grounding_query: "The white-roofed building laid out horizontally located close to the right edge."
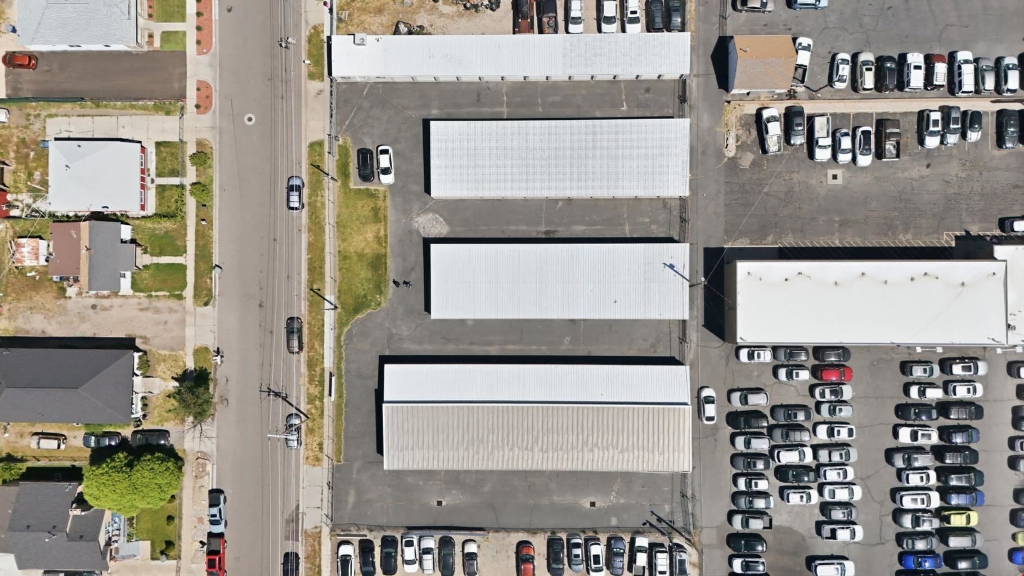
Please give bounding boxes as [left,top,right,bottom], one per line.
[724,261,1007,345]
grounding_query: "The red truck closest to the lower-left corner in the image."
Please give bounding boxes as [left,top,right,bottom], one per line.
[204,532,226,576]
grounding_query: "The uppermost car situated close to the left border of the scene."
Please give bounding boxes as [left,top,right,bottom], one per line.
[2,51,39,71]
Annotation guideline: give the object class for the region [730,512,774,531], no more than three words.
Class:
vehicle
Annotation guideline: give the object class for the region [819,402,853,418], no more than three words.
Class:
car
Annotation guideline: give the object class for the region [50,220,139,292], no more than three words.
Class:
house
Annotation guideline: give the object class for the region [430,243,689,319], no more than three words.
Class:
building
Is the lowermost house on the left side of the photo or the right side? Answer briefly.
left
